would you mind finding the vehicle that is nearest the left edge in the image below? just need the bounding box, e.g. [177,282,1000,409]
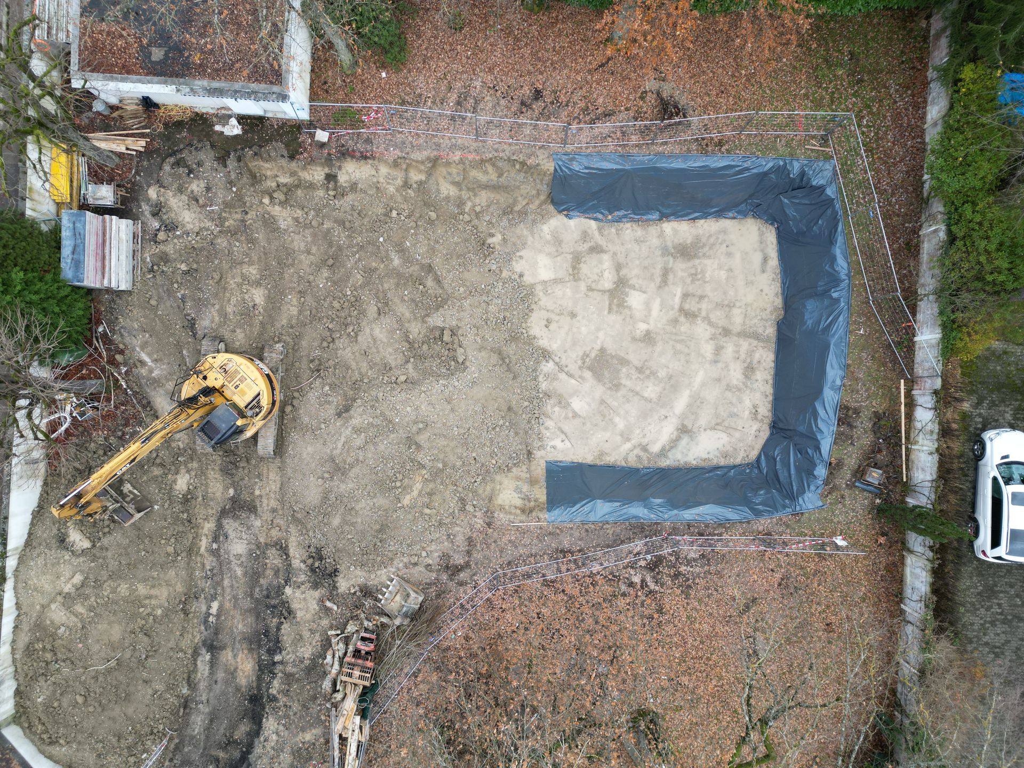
[55,339,288,527]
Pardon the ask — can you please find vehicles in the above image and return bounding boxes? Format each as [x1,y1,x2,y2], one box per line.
[55,339,288,527]
[973,429,1024,564]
